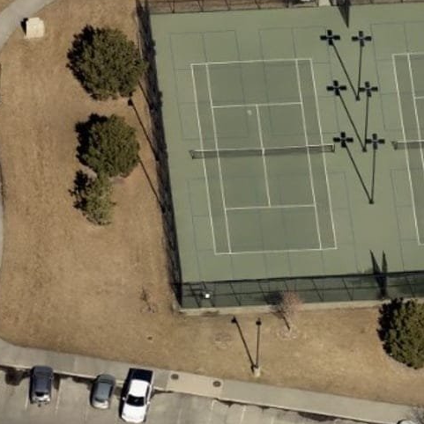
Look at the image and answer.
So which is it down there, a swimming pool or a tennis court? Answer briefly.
tennis court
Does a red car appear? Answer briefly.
No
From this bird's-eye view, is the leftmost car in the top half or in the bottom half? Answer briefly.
bottom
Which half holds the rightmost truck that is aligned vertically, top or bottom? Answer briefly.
bottom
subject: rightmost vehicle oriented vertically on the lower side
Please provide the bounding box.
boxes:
[122,368,154,424]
